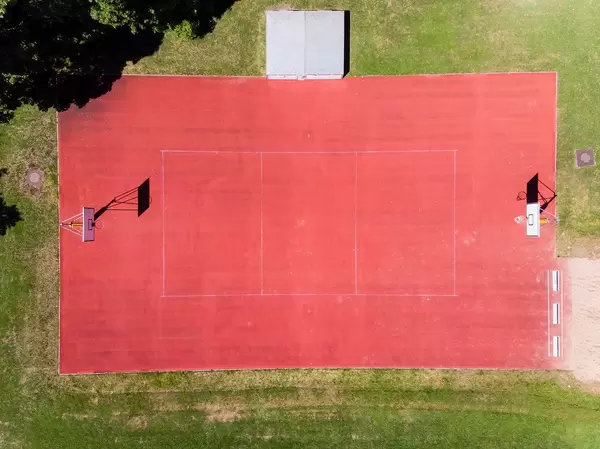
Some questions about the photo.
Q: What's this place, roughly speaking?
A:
sports ground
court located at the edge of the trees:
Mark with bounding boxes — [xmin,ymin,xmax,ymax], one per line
[56,71,574,376]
